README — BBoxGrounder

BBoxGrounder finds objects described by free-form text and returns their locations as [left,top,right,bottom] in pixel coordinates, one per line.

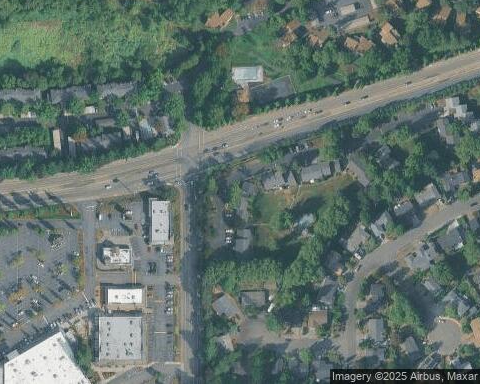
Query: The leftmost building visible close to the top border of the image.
[203,4,236,27]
